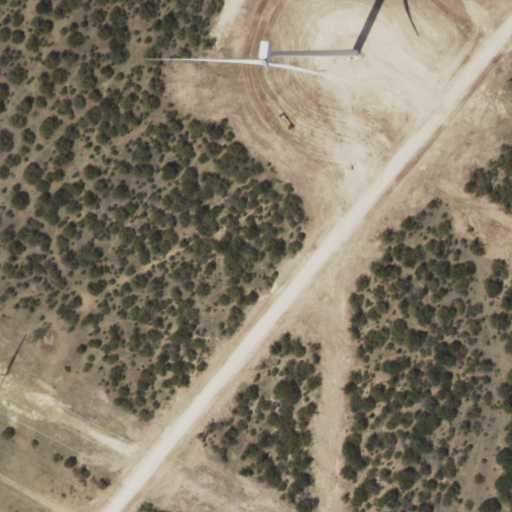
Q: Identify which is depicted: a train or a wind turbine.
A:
wind turbine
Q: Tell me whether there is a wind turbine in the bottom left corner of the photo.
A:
No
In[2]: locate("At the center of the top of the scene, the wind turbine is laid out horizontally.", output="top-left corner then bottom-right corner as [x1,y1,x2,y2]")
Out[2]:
[152,42,364,88]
